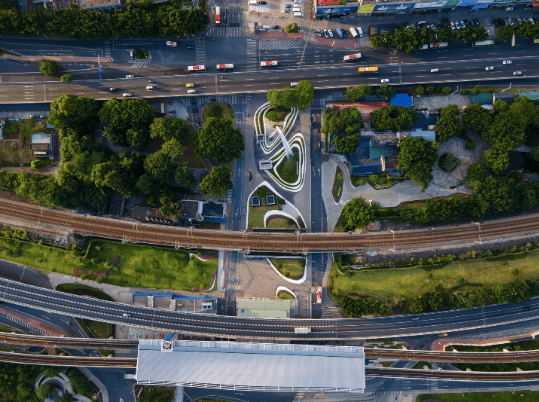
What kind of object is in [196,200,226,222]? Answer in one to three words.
house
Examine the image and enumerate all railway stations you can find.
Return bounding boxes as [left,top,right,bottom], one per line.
[135,336,366,393]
